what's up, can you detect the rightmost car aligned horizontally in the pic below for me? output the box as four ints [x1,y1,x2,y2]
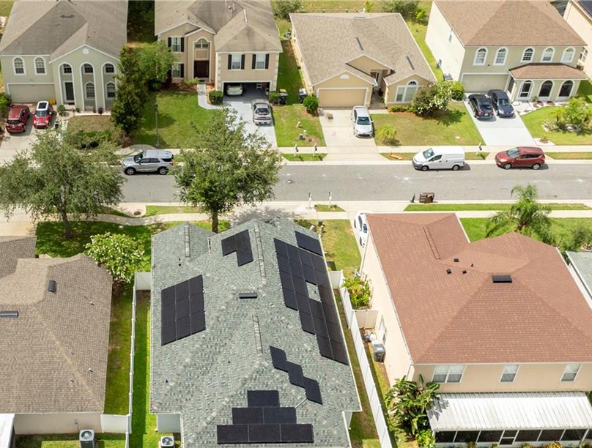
[494,144,548,170]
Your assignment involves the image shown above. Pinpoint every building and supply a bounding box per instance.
[363,213,592,448]
[0,237,113,448]
[424,0,589,117]
[290,11,436,112]
[155,0,284,117]
[0,0,129,142]
[149,214,363,448]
